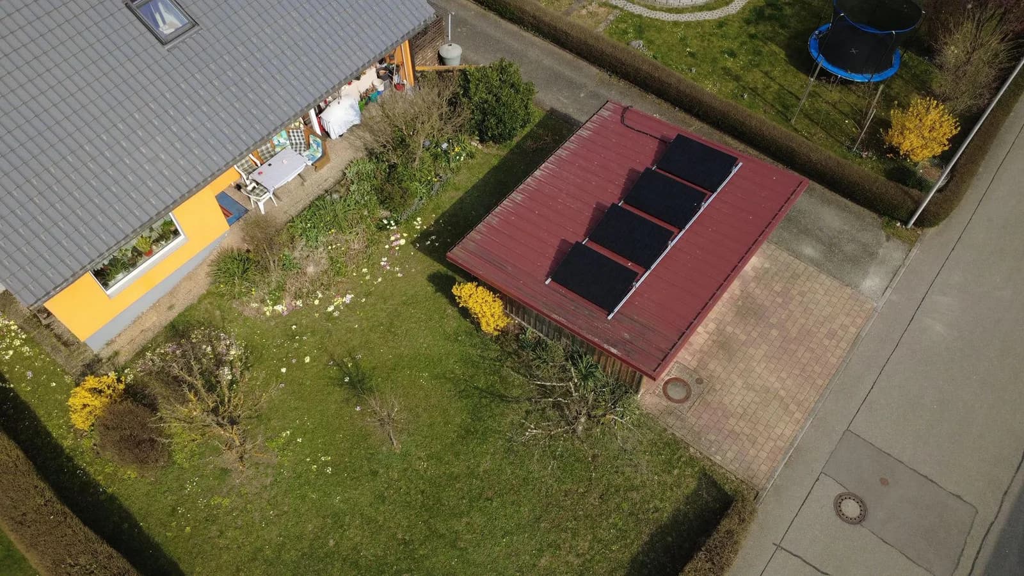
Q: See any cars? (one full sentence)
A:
No, I can't see a single car in this photo.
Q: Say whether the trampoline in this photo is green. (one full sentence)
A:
No, the trampoline is black.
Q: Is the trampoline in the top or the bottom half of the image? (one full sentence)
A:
The trampoline is in the top half of the image.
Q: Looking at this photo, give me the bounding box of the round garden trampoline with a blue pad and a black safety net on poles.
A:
[799,0,926,104]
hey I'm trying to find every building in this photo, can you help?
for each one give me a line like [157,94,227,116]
[444,100,810,396]
[0,0,450,349]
